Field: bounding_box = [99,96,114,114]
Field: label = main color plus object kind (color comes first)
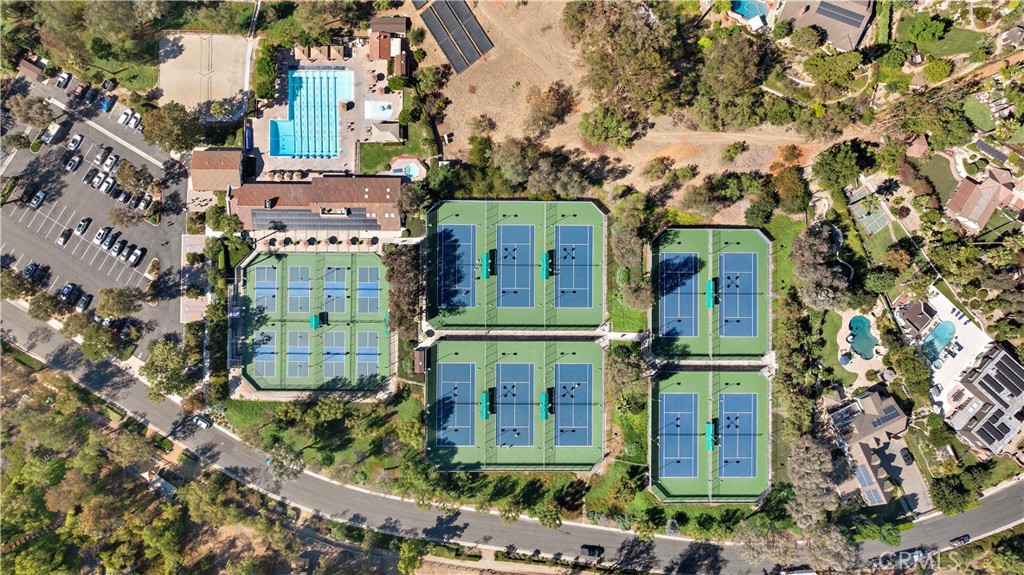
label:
blue car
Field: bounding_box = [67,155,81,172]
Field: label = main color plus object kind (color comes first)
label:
gray car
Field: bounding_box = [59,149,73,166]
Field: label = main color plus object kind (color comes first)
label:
black car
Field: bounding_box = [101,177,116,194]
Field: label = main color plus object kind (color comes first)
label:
white car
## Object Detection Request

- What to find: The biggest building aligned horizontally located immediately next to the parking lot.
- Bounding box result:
[227,175,402,232]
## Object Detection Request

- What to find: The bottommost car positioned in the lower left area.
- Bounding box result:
[195,414,212,428]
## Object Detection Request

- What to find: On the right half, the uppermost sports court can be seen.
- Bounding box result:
[847,187,889,235]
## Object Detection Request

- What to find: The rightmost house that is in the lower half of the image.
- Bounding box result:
[947,344,1024,459]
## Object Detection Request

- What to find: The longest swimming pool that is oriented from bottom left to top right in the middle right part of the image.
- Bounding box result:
[920,320,957,364]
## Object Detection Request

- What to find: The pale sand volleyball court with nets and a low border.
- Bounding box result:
[158,31,248,122]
